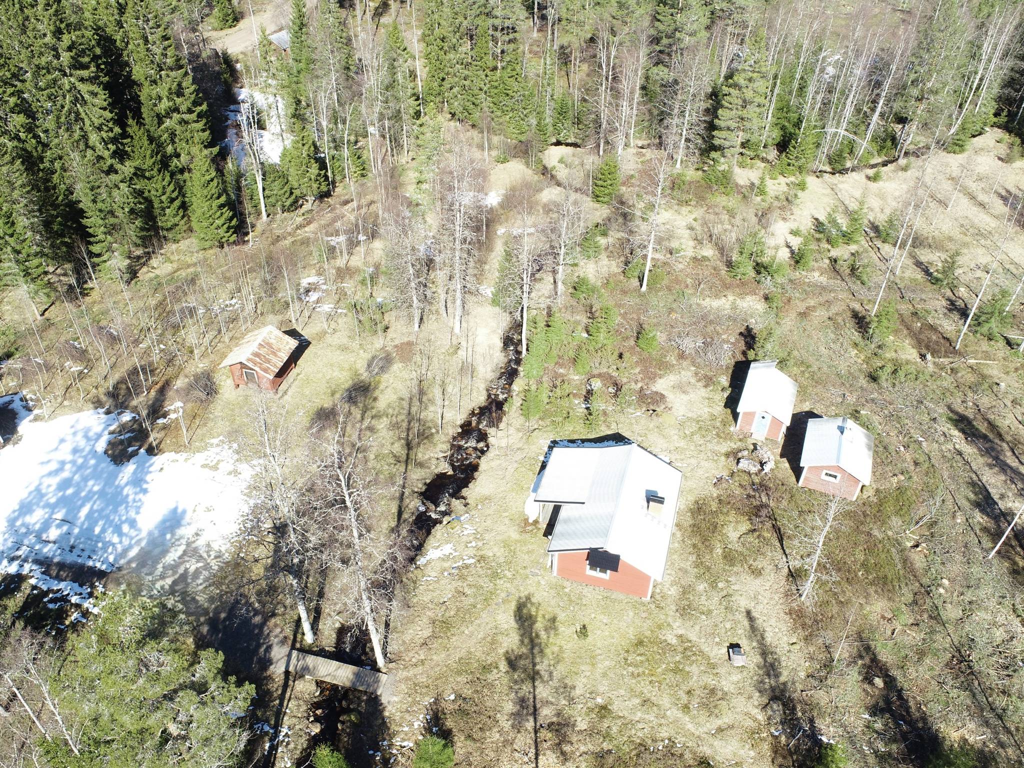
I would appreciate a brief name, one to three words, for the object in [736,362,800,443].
building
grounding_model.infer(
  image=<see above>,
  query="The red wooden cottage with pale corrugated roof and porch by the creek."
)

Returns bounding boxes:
[533,442,683,598]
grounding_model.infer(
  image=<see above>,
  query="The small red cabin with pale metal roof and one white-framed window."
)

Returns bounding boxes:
[798,416,874,501]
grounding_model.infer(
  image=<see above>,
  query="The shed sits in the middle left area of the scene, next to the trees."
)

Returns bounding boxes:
[216,324,299,395]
